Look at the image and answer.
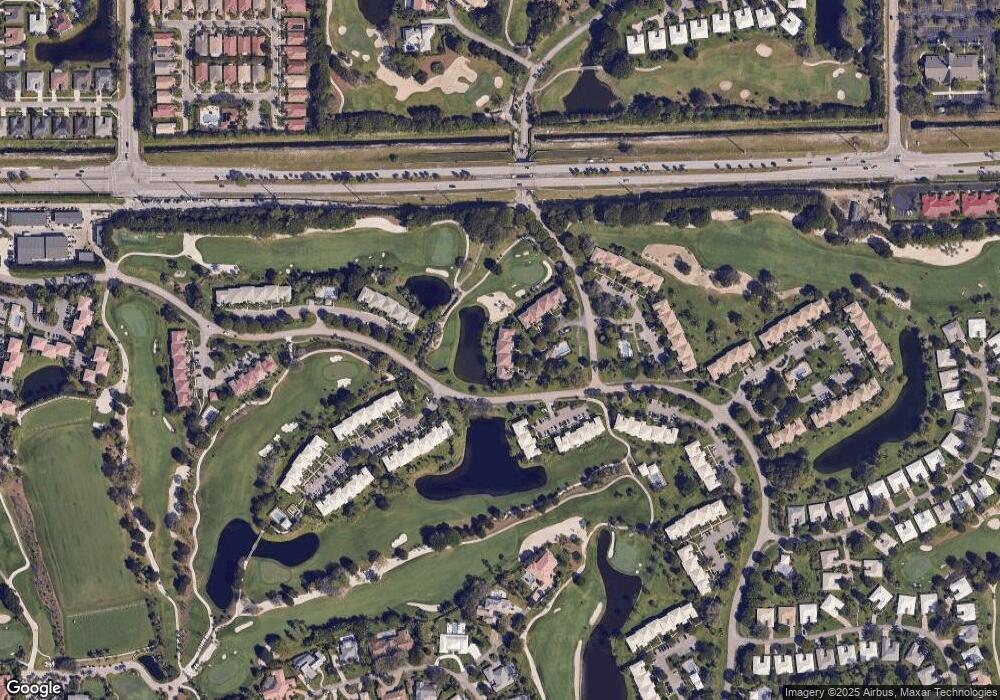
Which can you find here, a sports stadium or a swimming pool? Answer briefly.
swimming pool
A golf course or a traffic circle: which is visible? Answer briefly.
golf course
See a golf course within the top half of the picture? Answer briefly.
Yes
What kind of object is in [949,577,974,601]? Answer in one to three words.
house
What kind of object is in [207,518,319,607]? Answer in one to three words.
pond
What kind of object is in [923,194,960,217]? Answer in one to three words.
building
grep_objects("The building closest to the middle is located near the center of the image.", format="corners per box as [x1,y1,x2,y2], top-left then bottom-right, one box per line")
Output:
[497,328,516,380]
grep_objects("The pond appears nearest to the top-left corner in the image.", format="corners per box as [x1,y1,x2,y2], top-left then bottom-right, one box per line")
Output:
[36,0,111,62]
